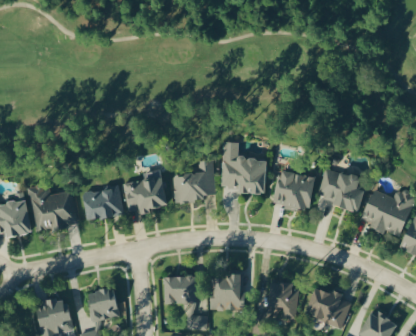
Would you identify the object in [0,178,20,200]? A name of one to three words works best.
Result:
swimming pool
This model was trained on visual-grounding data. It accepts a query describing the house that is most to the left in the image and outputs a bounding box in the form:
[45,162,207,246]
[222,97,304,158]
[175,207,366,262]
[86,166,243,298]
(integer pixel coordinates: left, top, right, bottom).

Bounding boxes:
[0,197,32,236]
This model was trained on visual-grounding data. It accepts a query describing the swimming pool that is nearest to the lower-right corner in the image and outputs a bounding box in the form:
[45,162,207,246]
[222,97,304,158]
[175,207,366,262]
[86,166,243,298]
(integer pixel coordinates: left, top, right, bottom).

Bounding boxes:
[379,176,401,196]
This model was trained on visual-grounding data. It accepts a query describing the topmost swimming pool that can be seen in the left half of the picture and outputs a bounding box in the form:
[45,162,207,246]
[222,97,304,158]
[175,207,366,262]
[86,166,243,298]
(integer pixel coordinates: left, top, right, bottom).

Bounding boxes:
[135,152,162,174]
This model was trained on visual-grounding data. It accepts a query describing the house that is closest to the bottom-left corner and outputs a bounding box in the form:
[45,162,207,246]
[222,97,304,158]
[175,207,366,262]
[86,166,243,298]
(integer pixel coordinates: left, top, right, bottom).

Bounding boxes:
[37,299,76,336]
